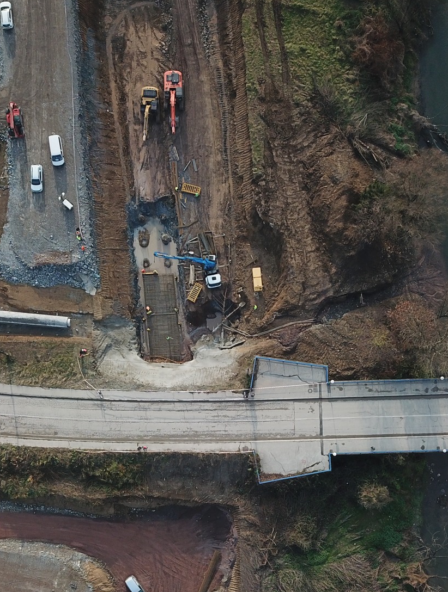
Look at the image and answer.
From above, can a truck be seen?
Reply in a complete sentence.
Yes, you can see a truck in this photo.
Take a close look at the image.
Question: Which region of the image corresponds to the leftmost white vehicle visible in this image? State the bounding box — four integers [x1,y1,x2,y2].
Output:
[0,2,15,32]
